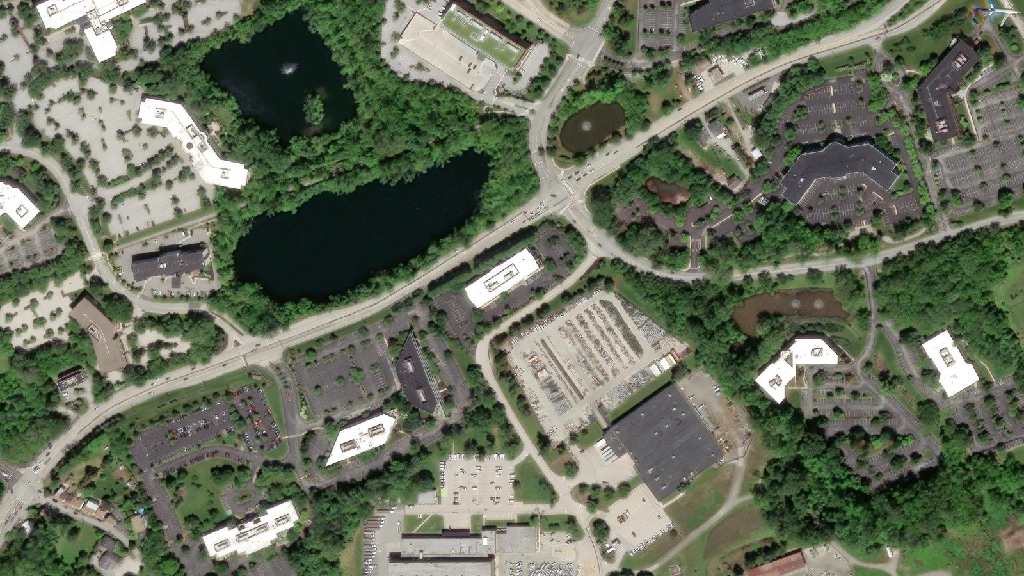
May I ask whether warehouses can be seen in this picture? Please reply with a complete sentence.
Yes, you can see a warehouse in this photo.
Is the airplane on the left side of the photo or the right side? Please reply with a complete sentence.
It is on the right.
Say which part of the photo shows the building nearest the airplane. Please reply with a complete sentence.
The building nearest the airplane appears toward the top right of the photo.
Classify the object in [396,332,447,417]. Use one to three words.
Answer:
building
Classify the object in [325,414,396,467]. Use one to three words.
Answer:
building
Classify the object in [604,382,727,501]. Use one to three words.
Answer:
warehouse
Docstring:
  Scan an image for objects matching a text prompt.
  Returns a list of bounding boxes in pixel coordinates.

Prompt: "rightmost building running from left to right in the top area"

[781,142,900,205]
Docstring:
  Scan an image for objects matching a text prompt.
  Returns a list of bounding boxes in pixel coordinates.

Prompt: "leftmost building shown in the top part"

[0,182,40,228]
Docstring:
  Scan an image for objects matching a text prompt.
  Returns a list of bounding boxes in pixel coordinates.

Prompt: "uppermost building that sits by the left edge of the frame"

[35,0,147,63]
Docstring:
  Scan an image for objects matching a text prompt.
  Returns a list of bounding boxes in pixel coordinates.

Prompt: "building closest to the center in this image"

[465,249,539,308]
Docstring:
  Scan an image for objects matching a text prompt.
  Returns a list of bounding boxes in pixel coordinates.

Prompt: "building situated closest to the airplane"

[918,38,981,142]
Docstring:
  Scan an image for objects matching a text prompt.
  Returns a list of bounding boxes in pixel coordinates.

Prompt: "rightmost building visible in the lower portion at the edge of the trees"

[924,330,980,398]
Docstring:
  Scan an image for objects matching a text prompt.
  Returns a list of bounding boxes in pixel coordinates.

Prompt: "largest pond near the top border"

[200,12,356,140]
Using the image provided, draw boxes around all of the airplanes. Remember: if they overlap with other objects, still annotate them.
[990,0,1021,27]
